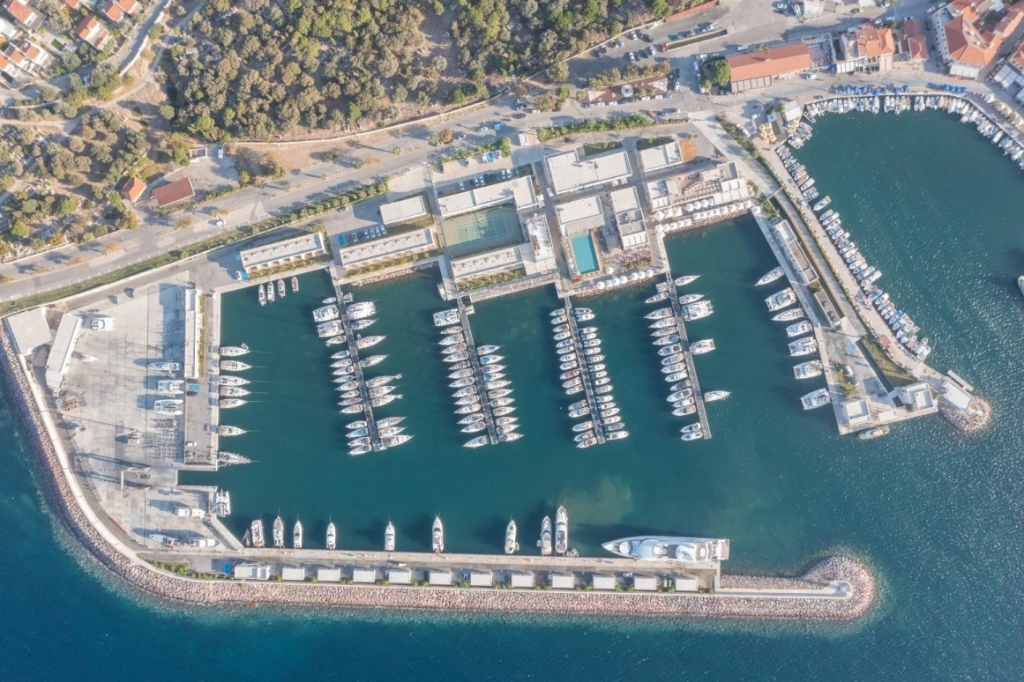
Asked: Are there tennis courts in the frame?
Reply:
Yes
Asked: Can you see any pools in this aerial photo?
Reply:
Yes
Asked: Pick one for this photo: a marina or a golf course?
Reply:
marina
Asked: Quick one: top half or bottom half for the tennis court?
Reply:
top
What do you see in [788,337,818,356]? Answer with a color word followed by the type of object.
white boat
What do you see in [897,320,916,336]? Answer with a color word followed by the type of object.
white boat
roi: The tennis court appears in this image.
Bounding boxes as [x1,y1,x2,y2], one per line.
[442,202,522,258]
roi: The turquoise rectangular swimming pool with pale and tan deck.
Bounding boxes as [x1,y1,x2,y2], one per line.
[563,230,606,285]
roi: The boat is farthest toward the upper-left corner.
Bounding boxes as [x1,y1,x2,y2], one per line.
[92,318,117,330]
